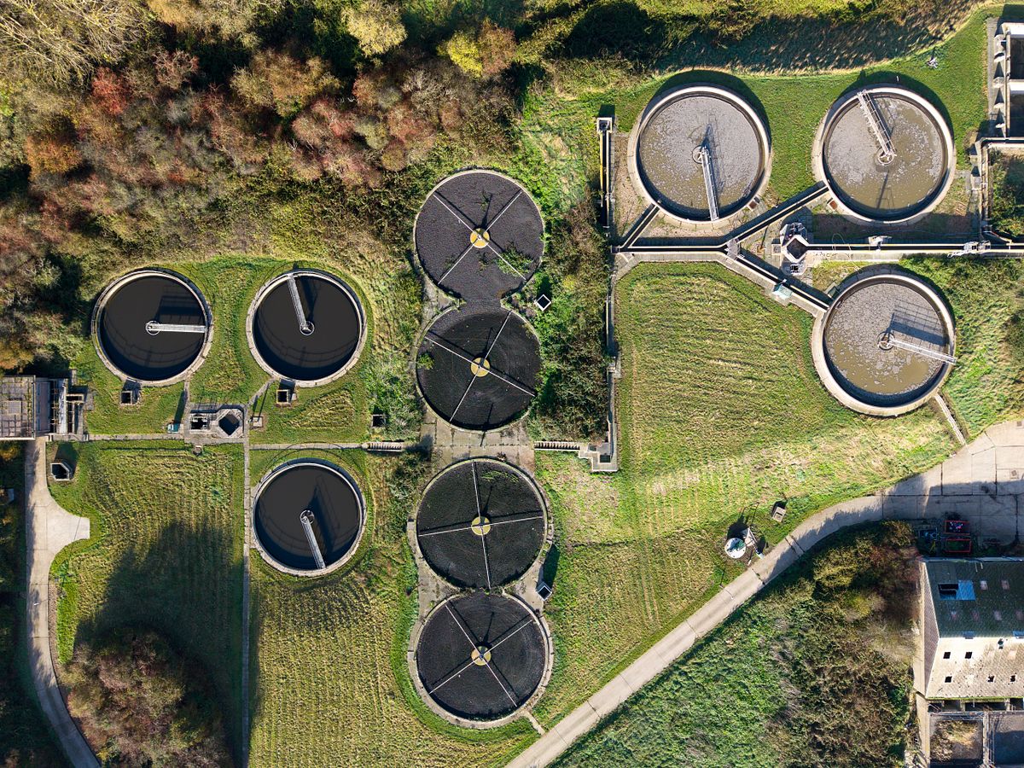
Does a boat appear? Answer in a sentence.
No, I can't see a single boat in this photo.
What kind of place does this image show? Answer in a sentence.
This looks like an industrial area.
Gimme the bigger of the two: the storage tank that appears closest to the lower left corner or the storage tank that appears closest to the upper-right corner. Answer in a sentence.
Compared with the storage tank that appears closest to the lower left corner, the storage tank that appears closest to the upper-right corner is the larger one.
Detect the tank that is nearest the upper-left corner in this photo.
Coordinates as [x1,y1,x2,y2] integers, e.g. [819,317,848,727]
[93,270,213,389]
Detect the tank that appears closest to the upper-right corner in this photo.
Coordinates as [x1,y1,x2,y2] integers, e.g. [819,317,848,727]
[811,88,956,232]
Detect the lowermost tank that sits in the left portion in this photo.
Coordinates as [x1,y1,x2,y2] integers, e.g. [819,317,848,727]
[251,461,367,577]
